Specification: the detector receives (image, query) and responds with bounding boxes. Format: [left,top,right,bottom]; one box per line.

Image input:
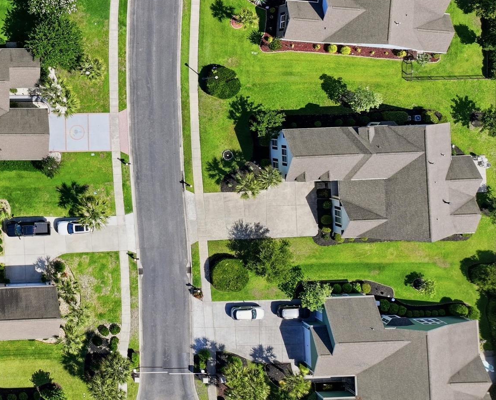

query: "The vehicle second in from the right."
[230,305,265,324]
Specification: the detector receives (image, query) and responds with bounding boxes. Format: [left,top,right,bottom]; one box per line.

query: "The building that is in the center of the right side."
[270,120,485,242]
